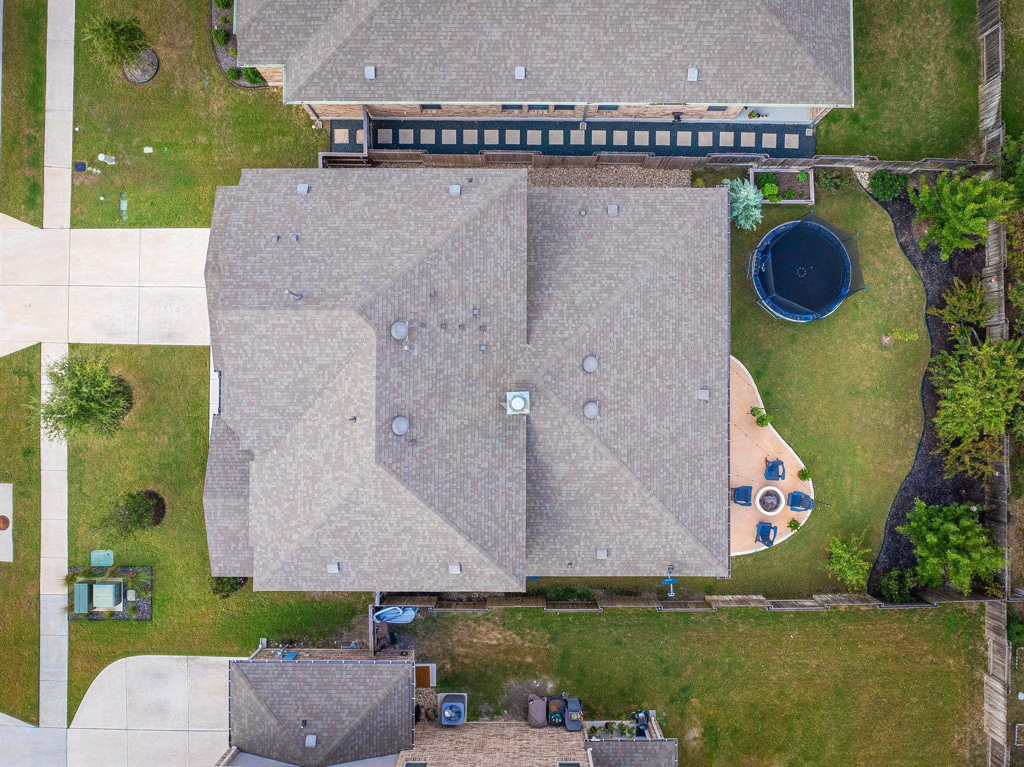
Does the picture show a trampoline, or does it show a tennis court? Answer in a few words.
trampoline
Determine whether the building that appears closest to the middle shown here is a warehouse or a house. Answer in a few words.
house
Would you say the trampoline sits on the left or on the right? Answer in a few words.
right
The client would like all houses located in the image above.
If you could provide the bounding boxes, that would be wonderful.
[203,168,733,592]
[234,0,854,127]
[213,642,678,767]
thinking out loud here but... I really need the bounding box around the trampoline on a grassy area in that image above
[744,210,866,325]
